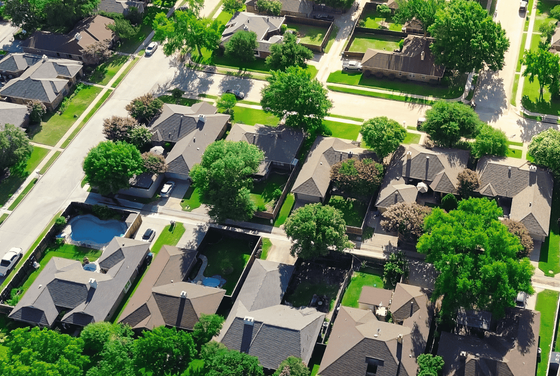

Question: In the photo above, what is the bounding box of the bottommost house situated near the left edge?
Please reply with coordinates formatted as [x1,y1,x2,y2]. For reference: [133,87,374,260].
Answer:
[8,237,152,331]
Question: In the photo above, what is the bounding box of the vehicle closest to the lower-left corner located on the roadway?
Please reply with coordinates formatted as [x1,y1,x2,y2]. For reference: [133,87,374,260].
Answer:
[0,250,23,275]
